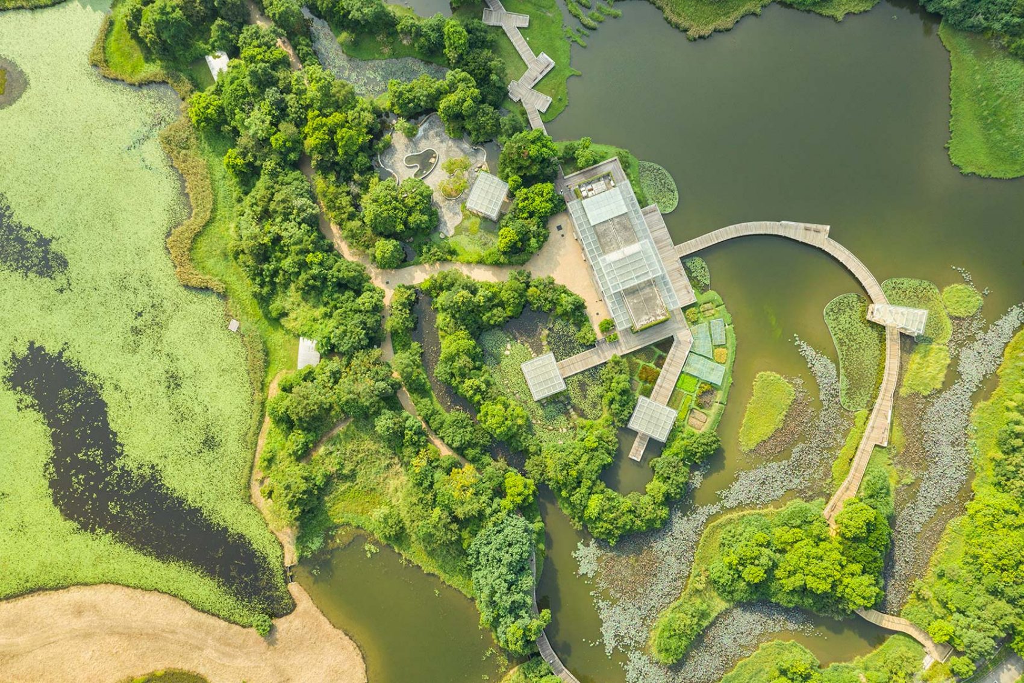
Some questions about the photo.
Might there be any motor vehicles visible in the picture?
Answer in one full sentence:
No, there appears to be no motor vehicle in this shot.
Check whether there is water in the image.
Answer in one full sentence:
Yes, the picture does contain water.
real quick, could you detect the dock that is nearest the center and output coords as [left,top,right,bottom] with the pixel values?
[628,430,652,462]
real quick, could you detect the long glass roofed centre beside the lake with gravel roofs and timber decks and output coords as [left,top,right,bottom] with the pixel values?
[556,157,698,407]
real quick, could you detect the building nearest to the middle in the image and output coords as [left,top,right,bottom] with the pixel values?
[521,352,566,401]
